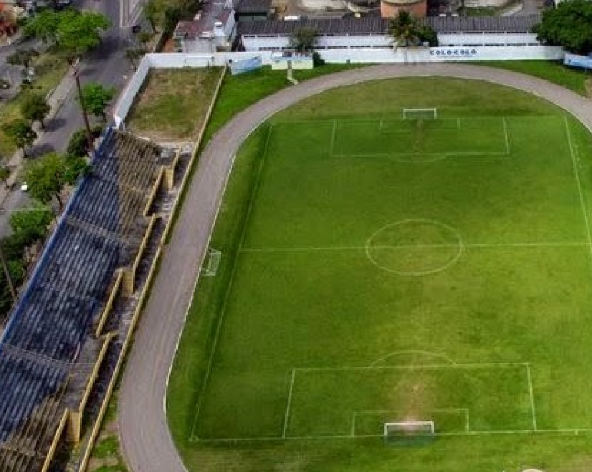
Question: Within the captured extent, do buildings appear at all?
Yes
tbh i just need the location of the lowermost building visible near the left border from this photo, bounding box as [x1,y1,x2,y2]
[0,22,28,40]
